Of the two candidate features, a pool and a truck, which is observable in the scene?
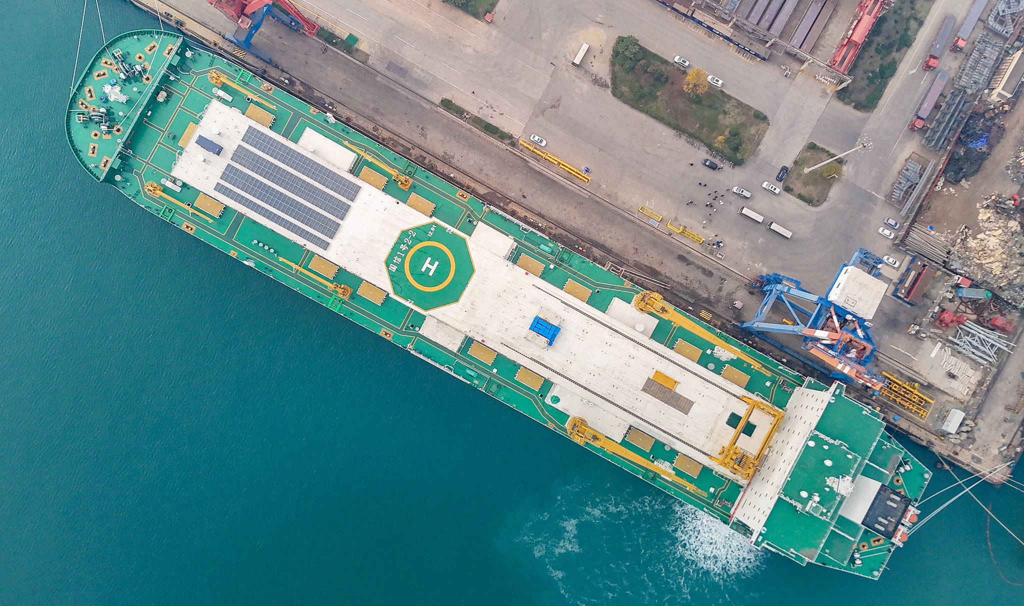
truck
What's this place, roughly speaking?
port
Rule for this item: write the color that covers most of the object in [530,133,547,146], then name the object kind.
white vehicle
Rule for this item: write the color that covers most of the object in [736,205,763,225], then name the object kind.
white vehicle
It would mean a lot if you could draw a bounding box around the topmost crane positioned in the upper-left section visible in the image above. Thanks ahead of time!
[204,0,321,64]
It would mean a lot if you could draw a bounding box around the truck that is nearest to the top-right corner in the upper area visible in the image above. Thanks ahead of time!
[953,0,988,50]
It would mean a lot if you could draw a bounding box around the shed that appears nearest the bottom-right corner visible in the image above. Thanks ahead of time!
[937,407,965,434]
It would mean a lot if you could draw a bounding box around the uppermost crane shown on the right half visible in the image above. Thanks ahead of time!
[829,0,900,75]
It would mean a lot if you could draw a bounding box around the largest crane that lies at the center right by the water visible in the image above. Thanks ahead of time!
[732,245,890,390]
